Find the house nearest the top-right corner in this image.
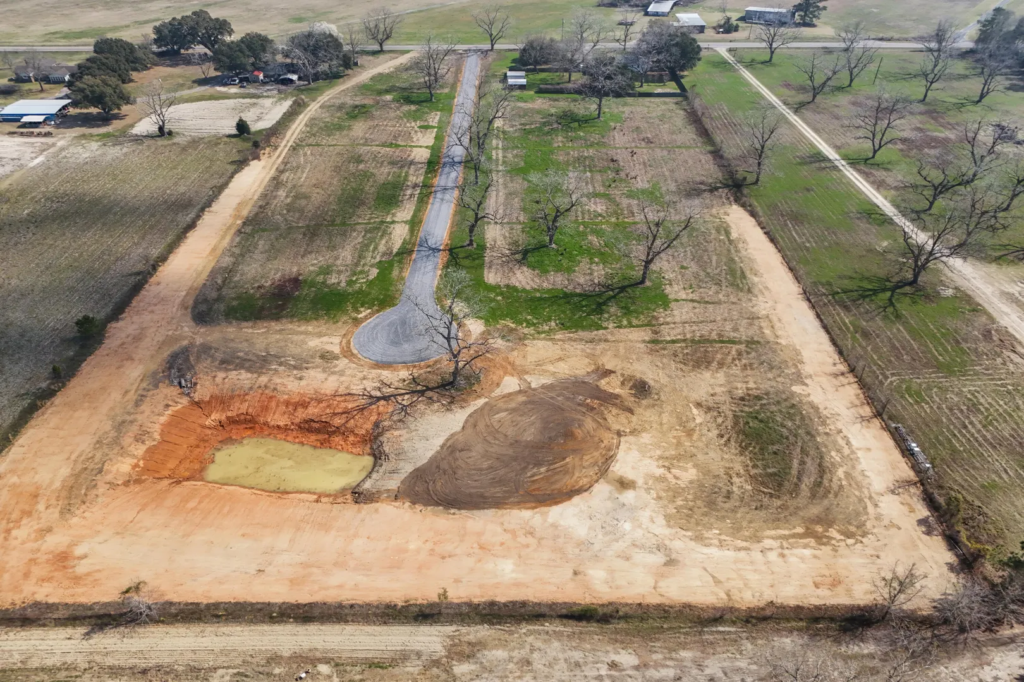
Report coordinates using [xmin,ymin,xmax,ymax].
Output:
[743,11,794,24]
